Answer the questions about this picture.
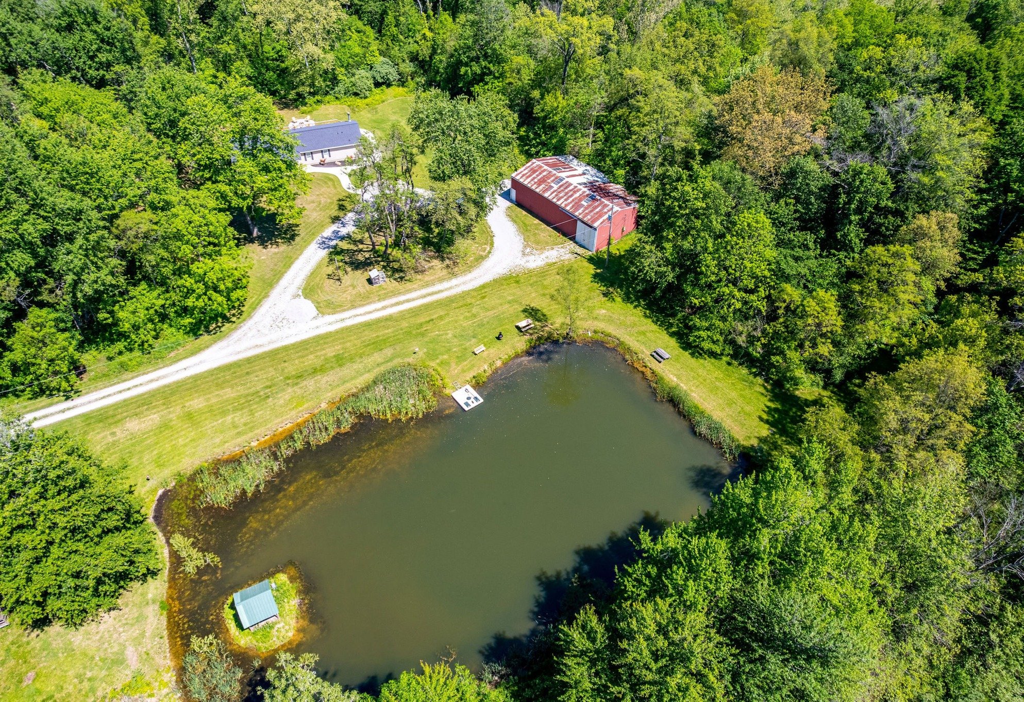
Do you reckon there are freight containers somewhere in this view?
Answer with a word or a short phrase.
No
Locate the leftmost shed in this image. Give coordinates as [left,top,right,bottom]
[232,582,277,638]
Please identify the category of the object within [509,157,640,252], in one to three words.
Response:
barn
